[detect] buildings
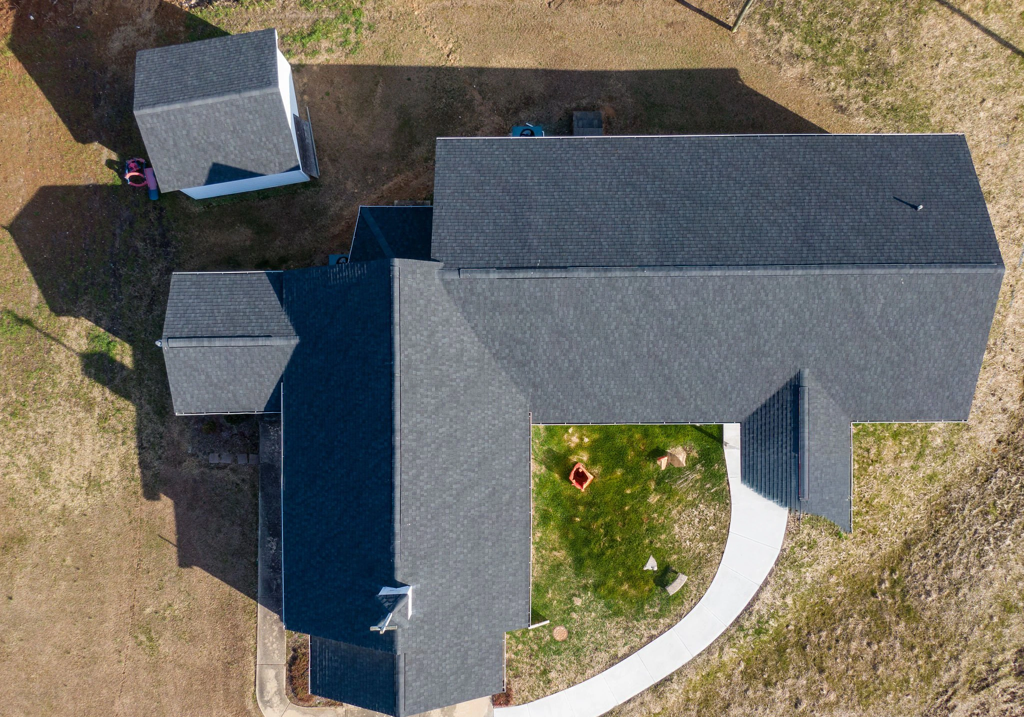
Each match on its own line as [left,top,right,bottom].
[157,134,1006,717]
[133,30,312,201]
